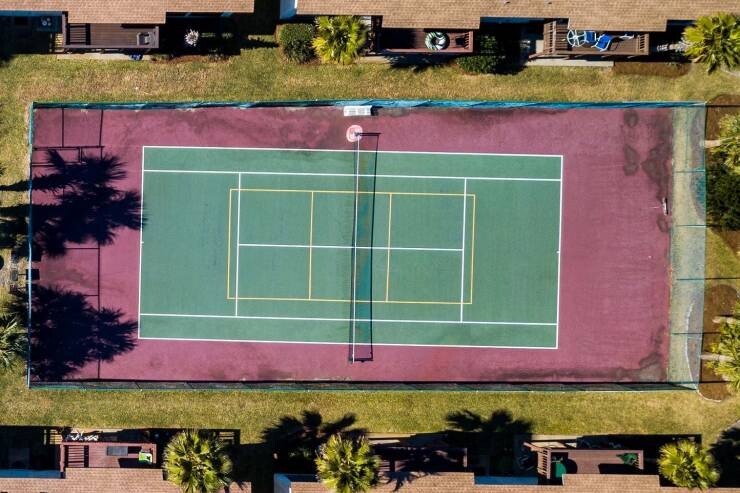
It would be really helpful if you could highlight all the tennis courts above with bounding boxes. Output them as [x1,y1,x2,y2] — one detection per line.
[30,107,670,383]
